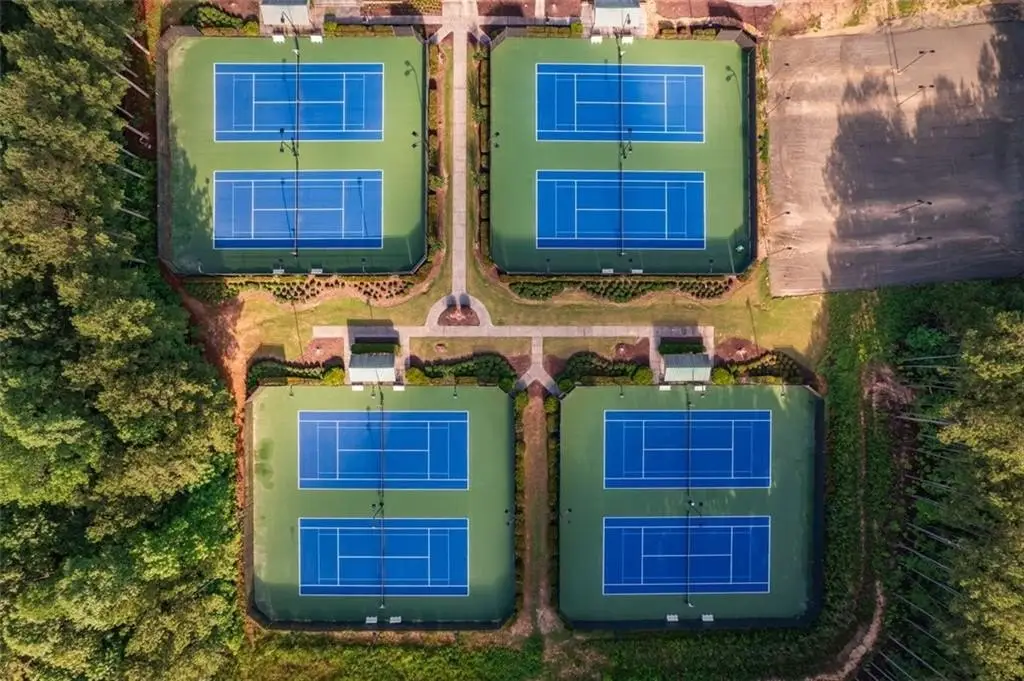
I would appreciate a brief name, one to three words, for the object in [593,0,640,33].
building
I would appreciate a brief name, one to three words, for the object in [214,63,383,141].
tennis court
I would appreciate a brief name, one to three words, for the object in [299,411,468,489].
tennis court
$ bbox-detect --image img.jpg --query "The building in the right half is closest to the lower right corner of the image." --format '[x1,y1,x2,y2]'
[663,353,712,382]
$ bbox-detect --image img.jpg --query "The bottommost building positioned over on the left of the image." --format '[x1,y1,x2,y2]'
[348,353,396,382]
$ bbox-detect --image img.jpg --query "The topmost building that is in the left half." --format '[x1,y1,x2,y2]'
[260,0,311,31]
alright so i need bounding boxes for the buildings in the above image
[348,353,396,382]
[593,0,640,33]
[663,353,712,382]
[260,0,311,31]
